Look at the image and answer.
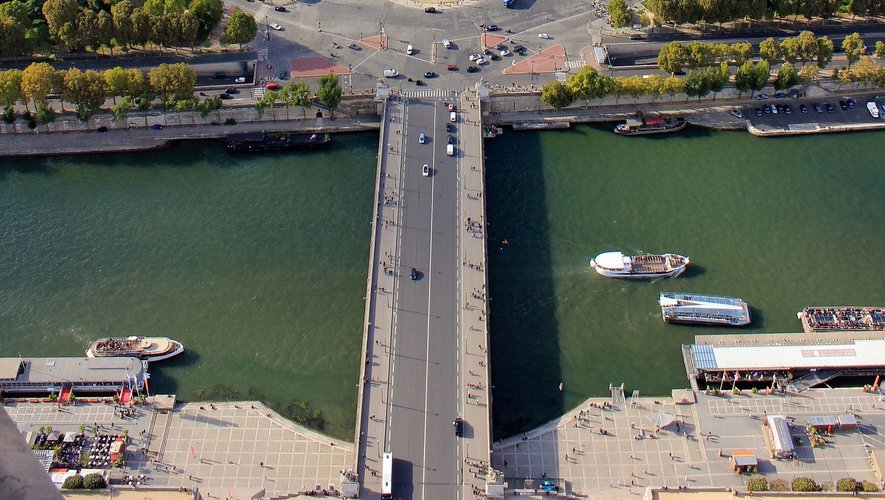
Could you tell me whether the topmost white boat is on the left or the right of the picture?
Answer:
right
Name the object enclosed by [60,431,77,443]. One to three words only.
umbrella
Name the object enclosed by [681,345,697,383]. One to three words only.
pier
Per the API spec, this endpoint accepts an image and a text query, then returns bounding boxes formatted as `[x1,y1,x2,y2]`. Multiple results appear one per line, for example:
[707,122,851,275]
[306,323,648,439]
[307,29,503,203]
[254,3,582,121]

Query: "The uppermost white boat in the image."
[590,254,691,277]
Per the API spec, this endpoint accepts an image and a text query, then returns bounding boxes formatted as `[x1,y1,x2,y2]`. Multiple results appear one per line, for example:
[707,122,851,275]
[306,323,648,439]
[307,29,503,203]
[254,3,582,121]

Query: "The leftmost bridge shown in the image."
[353,96,493,500]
